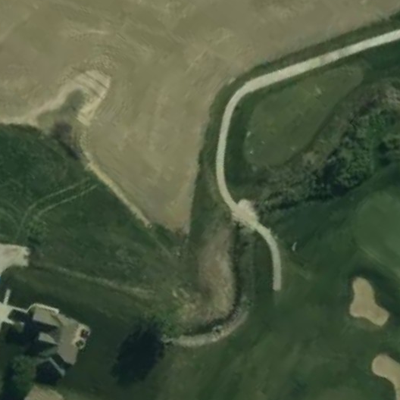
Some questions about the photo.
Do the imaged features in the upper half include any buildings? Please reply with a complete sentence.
No, I see no building in the upper half.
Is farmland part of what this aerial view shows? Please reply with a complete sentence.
Yes, some farmland is visible.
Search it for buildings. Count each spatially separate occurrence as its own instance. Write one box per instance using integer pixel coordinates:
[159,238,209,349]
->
[22,382,62,400]
[28,308,82,383]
